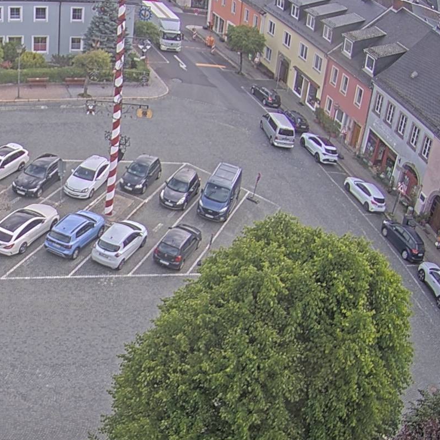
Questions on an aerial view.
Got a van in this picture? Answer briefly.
Yes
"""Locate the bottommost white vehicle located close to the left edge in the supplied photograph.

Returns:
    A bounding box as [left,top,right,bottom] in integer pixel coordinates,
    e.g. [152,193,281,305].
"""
[0,204,58,258]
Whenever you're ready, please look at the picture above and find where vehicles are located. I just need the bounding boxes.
[0,142,28,179]
[346,179,386,212]
[250,84,284,107]
[0,204,58,258]
[200,168,241,222]
[300,133,339,164]
[120,152,163,193]
[383,219,427,263]
[10,150,69,197]
[256,113,297,147]
[63,157,109,198]
[280,108,316,135]
[420,264,440,305]
[94,223,147,269]
[152,224,203,271]
[161,167,201,210]
[143,0,185,47]
[45,211,106,259]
